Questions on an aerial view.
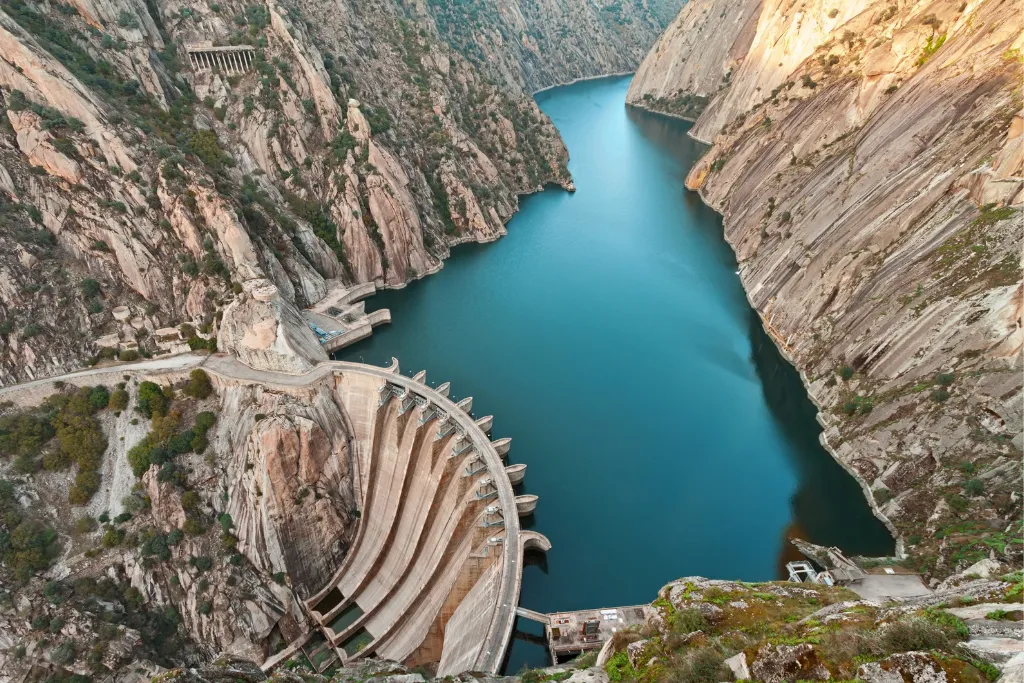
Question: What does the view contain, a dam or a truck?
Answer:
dam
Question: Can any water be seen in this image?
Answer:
Yes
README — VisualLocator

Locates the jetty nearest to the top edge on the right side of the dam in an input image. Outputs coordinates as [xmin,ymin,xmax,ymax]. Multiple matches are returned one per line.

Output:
[788,533,838,576]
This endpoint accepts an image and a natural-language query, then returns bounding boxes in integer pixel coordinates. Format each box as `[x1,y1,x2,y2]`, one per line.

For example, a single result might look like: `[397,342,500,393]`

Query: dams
[268,356,551,673]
